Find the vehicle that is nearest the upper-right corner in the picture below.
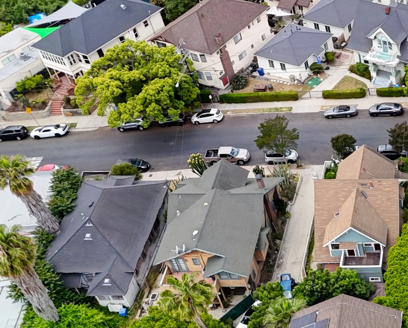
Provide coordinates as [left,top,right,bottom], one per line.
[368,101,404,117]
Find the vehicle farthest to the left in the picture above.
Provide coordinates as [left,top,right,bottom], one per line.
[0,120,33,142]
